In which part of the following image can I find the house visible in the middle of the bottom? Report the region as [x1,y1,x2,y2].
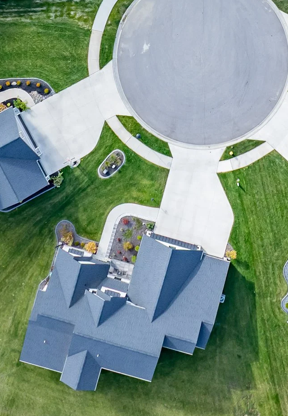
[20,225,232,393]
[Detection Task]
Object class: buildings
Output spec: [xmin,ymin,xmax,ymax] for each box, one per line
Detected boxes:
[20,225,232,393]
[0,105,55,210]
